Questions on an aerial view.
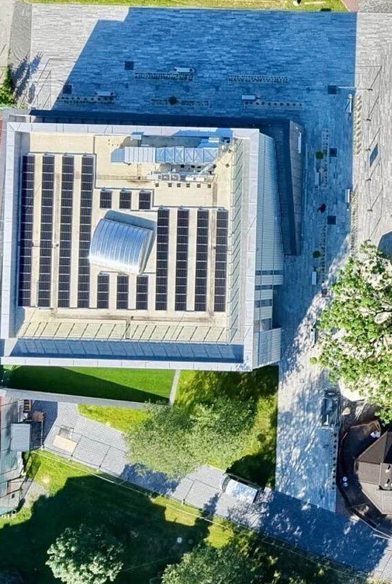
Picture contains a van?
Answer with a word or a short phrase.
Yes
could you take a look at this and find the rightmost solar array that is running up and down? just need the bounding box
[215,207,229,313]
